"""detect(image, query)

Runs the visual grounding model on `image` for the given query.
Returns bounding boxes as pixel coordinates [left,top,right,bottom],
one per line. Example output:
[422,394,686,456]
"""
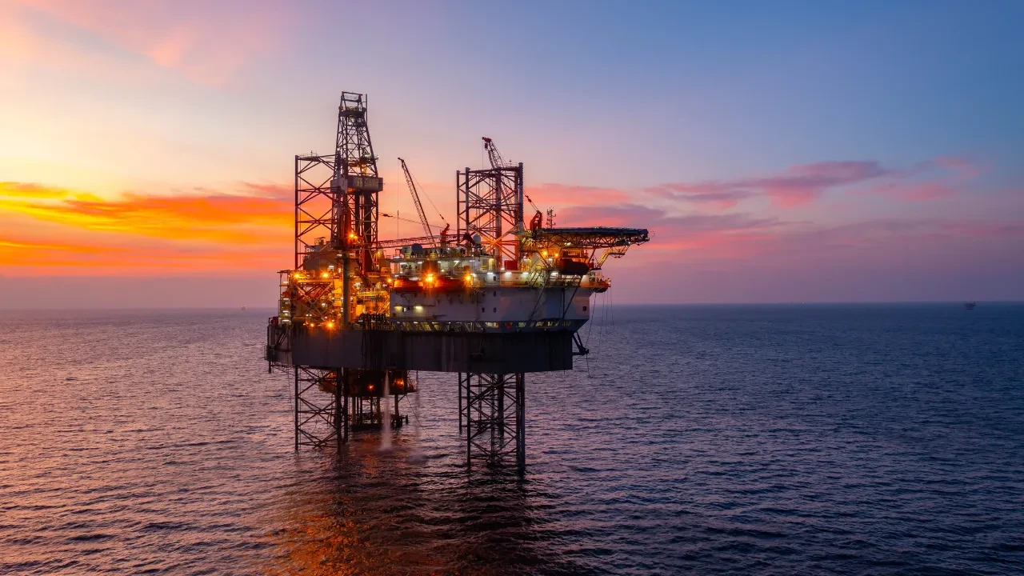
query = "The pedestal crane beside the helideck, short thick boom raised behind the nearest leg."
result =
[481,142,551,247]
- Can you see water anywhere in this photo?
Yes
